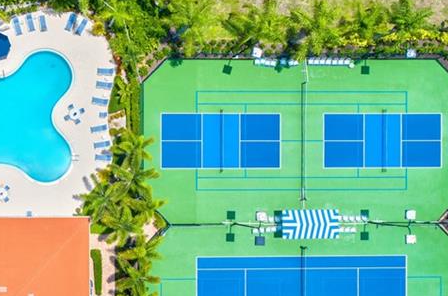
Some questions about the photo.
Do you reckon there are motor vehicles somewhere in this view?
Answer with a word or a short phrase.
No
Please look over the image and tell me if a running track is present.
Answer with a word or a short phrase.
No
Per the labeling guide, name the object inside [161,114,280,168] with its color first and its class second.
blue sports court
